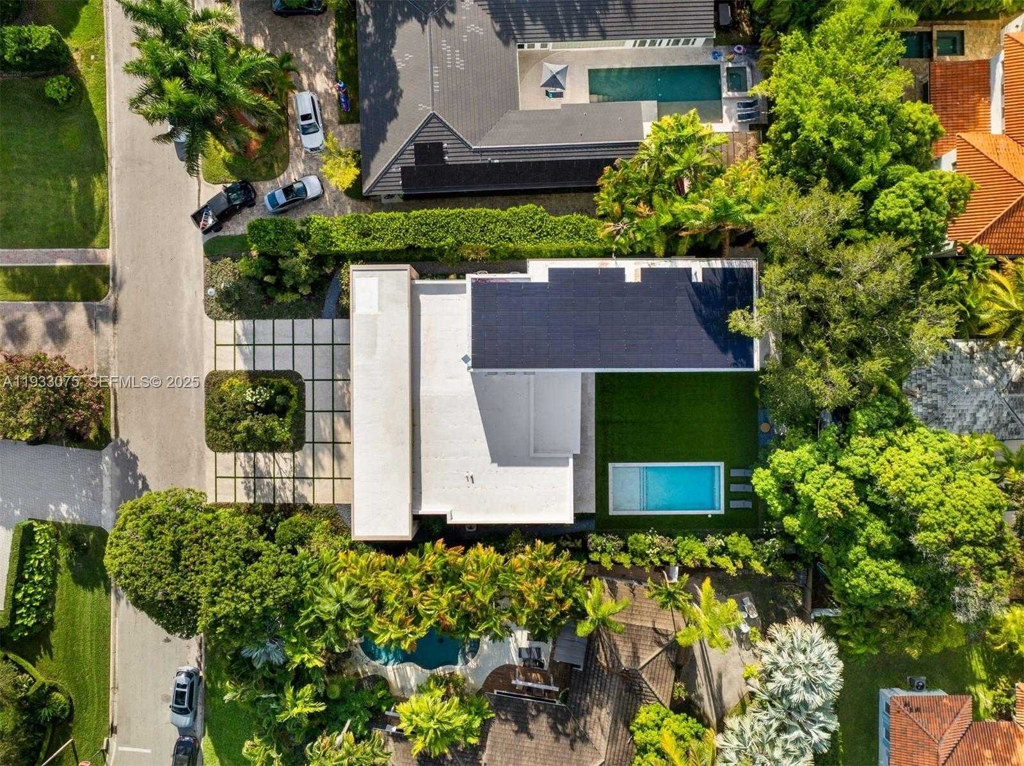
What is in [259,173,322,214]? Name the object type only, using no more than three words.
car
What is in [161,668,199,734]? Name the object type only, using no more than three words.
car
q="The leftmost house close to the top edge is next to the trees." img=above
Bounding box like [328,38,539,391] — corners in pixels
[356,0,718,198]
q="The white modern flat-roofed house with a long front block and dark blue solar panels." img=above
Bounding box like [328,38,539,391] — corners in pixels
[350,258,759,540]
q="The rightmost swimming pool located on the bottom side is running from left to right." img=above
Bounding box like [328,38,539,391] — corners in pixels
[609,462,724,515]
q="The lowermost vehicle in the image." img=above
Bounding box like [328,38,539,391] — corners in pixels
[167,737,199,766]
